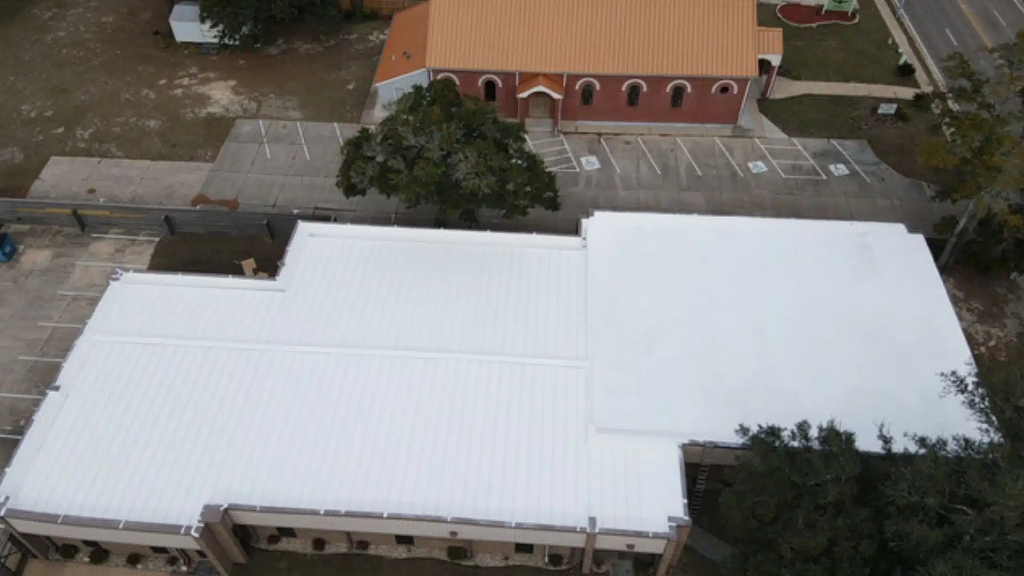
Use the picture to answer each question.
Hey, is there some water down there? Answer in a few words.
No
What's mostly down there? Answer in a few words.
buildings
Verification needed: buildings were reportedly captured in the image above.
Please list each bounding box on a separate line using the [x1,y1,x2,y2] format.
[168,4,248,44]
[371,0,783,133]
[0,207,1019,565]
